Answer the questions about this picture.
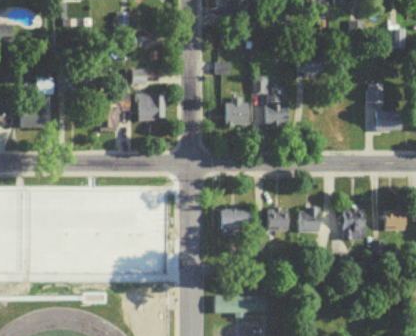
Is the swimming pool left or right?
left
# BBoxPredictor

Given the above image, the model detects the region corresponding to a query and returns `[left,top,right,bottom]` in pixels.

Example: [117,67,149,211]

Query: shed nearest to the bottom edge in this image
[214,296,263,319]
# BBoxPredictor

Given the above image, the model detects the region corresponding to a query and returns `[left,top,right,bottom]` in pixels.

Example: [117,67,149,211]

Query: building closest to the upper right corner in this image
[388,9,406,48]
